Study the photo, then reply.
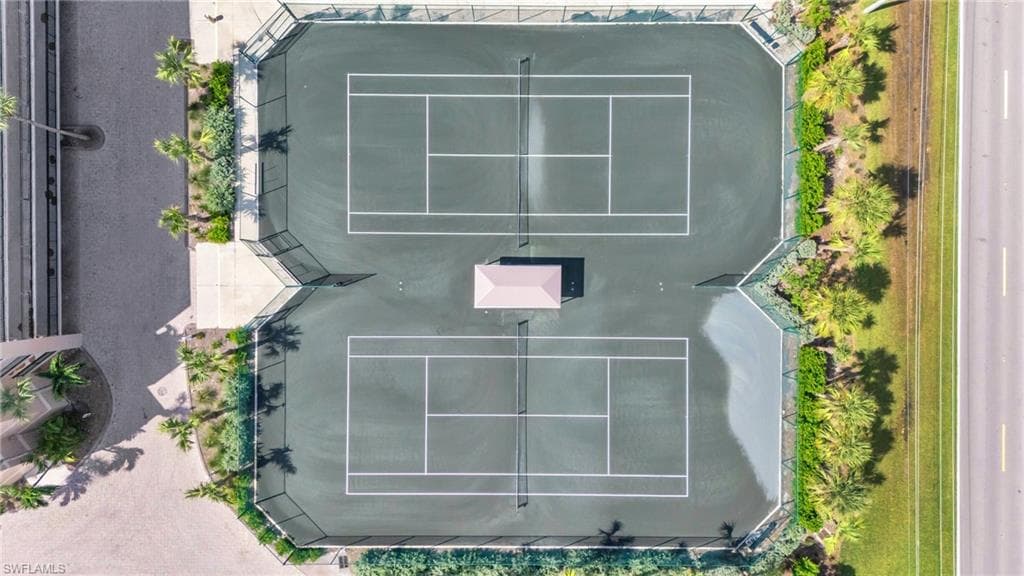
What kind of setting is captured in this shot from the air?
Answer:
sports ground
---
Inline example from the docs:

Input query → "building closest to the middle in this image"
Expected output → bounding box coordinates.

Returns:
[474,264,562,309]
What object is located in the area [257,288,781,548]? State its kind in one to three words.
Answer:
tennis court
